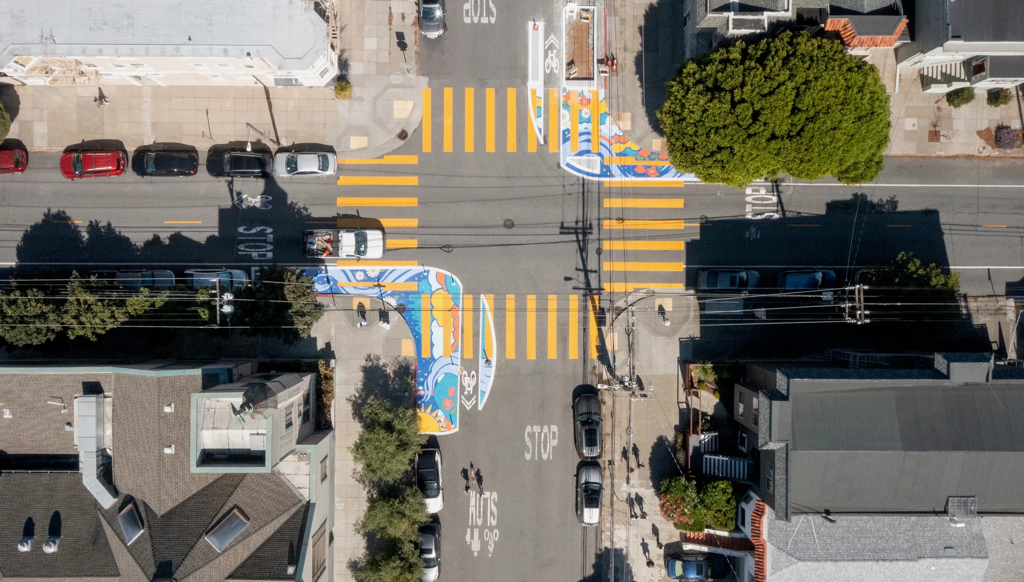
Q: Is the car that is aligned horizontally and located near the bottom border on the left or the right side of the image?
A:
right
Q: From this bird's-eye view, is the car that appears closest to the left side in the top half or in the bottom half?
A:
top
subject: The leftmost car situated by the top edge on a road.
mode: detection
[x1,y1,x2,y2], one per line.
[416,0,447,43]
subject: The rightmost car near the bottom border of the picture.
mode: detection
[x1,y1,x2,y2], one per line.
[664,550,731,582]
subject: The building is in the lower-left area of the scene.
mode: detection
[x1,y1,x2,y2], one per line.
[0,355,336,582]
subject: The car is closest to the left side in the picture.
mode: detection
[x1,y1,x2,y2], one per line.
[0,148,32,175]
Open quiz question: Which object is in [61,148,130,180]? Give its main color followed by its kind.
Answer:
red car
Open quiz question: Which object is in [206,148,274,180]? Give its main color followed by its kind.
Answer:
black car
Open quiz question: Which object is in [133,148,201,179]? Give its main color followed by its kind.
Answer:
black car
